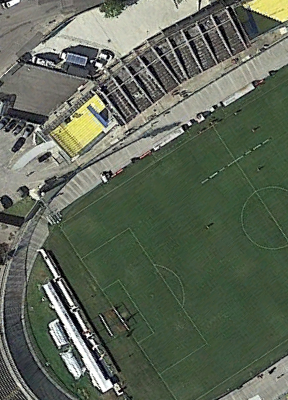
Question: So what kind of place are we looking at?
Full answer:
It's a sports ground.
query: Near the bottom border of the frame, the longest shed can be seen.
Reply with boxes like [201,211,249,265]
[43,283,111,391]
